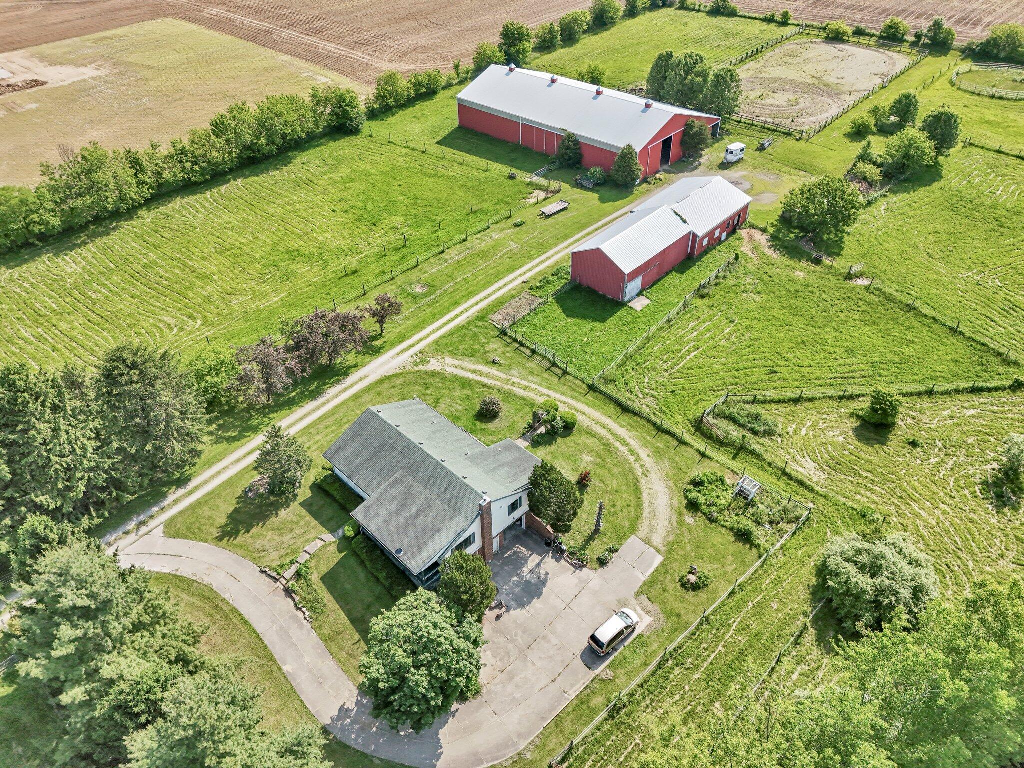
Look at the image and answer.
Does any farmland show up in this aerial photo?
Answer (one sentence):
Yes, farmland can be seen from above here.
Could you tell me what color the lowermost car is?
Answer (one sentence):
The color of the lowermost car is white.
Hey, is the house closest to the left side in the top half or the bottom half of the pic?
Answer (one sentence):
Seen from above, the house closest to the left side lies in the bottom half of the view.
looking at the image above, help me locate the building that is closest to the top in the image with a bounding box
[456,66,723,180]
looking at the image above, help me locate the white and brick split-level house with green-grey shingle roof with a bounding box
[322,401,552,606]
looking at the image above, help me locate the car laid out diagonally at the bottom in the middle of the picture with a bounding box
[588,604,640,654]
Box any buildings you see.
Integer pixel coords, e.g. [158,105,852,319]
[456,66,723,180]
[570,175,755,302]
[322,401,552,606]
